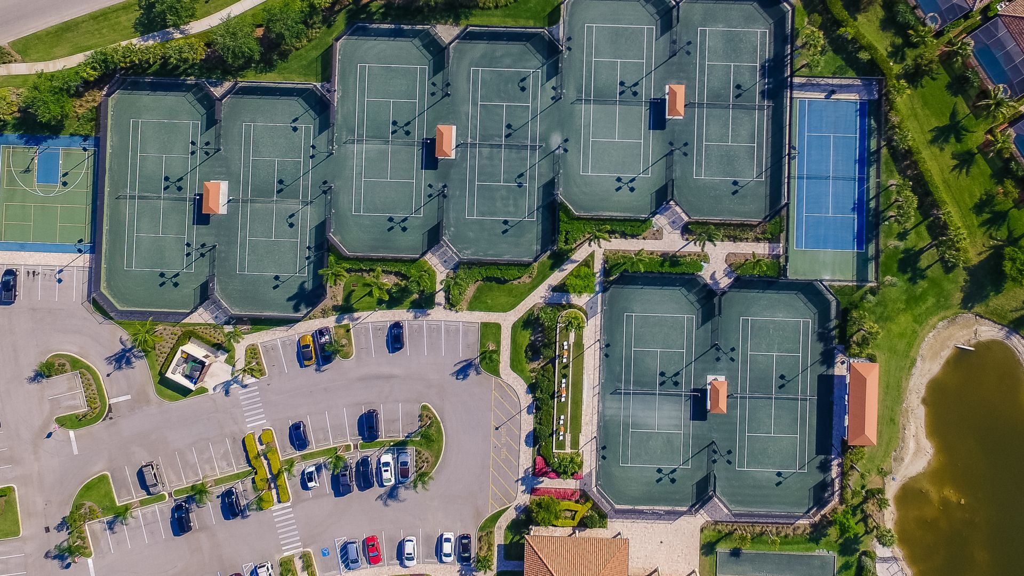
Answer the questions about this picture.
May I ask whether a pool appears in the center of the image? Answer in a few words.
No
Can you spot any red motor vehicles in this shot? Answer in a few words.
Yes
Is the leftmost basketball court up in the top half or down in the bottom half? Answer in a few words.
top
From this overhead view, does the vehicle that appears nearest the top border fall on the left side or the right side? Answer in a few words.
left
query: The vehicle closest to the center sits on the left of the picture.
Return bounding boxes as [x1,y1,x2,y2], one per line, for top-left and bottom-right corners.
[390,321,404,352]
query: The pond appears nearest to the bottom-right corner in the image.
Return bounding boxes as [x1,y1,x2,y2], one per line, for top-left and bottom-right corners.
[893,339,1024,576]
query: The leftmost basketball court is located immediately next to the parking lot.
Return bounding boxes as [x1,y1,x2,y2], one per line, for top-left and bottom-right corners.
[0,134,99,253]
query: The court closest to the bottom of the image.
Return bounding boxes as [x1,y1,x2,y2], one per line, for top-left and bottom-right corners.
[716,550,835,576]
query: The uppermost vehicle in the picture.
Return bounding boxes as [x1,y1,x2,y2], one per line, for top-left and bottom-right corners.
[0,268,20,304]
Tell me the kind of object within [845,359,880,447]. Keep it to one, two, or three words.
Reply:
building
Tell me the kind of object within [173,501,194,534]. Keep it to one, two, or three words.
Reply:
car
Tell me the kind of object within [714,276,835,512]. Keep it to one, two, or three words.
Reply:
tennis court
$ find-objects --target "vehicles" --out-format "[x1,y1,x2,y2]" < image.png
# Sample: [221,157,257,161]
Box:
[337,459,356,495]
[358,456,375,490]
[403,535,417,566]
[0,268,20,304]
[364,407,381,441]
[255,558,272,576]
[390,321,404,352]
[173,501,194,534]
[458,533,472,563]
[299,334,316,366]
[397,451,412,482]
[303,464,319,490]
[441,531,455,562]
[224,488,242,517]
[142,461,163,492]
[367,534,383,564]
[292,419,310,451]
[346,538,362,569]
[313,325,333,362]
[379,452,395,486]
